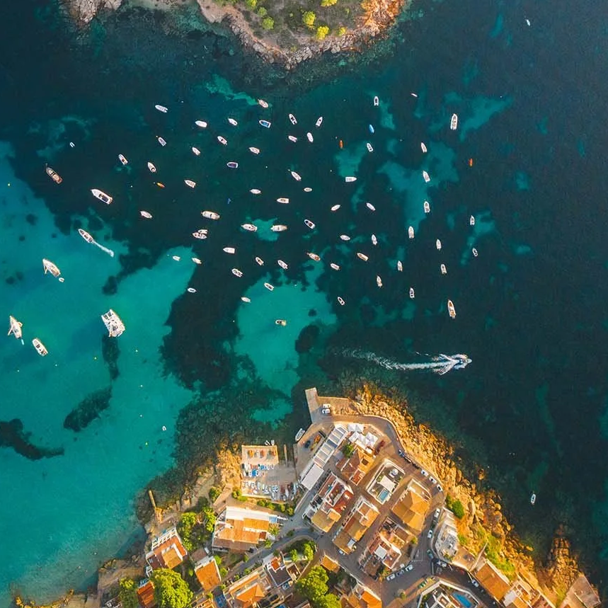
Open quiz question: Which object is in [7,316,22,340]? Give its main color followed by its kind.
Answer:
white boat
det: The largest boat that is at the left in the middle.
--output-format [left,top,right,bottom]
[102,308,127,339]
